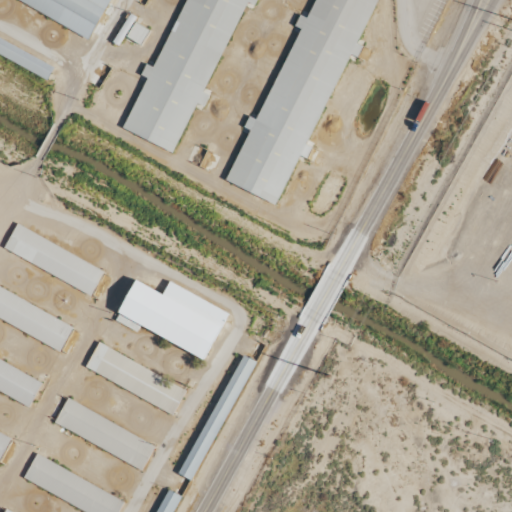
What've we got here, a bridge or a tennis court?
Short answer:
bridge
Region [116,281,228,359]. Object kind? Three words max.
barn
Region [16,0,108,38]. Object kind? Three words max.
barn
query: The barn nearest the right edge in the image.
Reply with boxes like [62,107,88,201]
[226,0,377,204]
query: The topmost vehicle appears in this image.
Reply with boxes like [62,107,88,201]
[408,101,427,130]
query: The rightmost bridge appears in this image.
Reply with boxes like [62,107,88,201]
[262,226,372,396]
